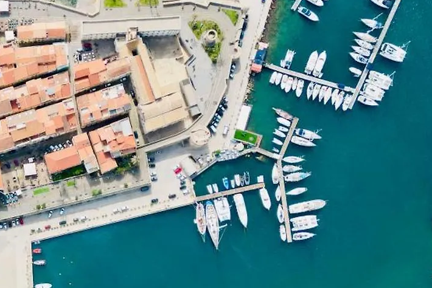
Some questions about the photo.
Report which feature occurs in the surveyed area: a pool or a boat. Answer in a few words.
boat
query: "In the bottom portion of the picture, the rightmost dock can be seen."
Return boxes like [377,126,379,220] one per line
[277,117,297,242]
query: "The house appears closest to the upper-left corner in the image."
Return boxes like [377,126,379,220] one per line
[17,24,47,42]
